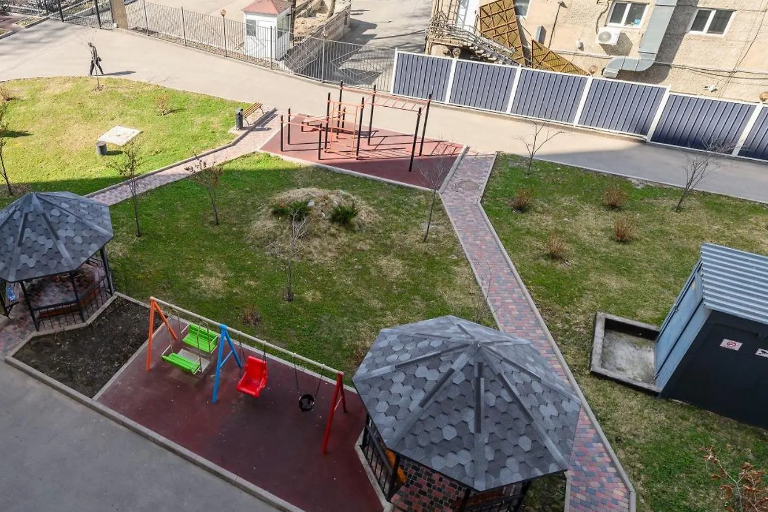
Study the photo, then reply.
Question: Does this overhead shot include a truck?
No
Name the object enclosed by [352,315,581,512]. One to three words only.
gazebo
